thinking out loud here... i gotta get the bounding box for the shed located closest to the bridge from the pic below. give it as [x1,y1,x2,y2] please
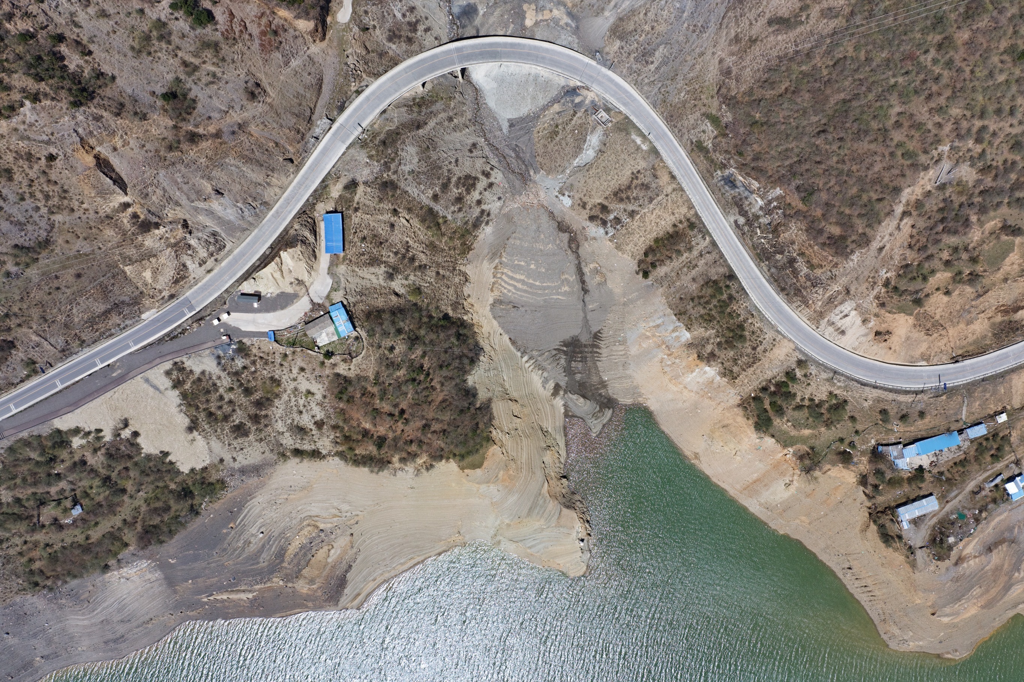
[323,213,345,254]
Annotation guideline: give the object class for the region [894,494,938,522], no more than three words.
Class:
barn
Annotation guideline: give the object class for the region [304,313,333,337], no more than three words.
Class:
house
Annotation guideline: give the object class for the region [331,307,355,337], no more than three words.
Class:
house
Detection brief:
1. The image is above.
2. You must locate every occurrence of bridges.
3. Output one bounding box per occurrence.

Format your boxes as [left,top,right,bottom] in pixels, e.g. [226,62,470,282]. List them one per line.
[328,35,613,144]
